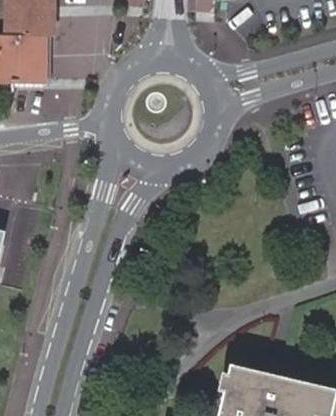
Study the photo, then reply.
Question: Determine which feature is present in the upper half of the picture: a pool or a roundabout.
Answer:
roundabout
